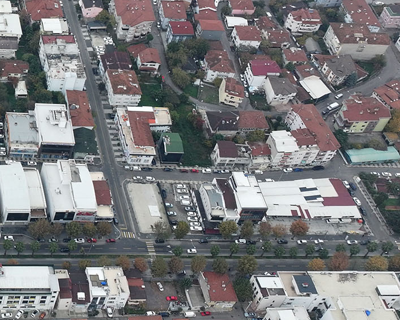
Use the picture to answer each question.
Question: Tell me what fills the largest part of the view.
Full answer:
The largest share of the image is taken up by buildings.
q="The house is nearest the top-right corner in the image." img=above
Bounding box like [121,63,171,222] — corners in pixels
[380,3,400,26]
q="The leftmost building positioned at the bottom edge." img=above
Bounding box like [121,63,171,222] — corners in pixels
[0,265,58,307]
